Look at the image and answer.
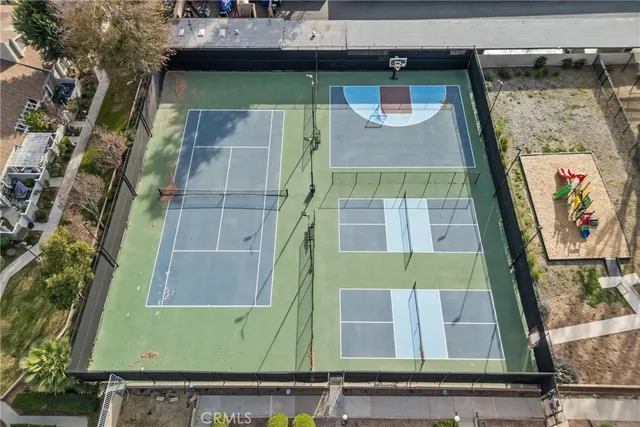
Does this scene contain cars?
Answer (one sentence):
No, there is no car in the image.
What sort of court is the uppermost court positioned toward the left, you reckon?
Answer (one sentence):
In the photo, the uppermost court positioned toward the left shows up as a tennis court.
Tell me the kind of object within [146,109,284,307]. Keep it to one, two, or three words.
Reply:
tennis court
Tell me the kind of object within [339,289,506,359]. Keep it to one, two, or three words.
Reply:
sports court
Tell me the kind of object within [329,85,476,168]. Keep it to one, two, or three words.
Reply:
basketball court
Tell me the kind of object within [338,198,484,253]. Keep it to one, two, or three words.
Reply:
sports court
